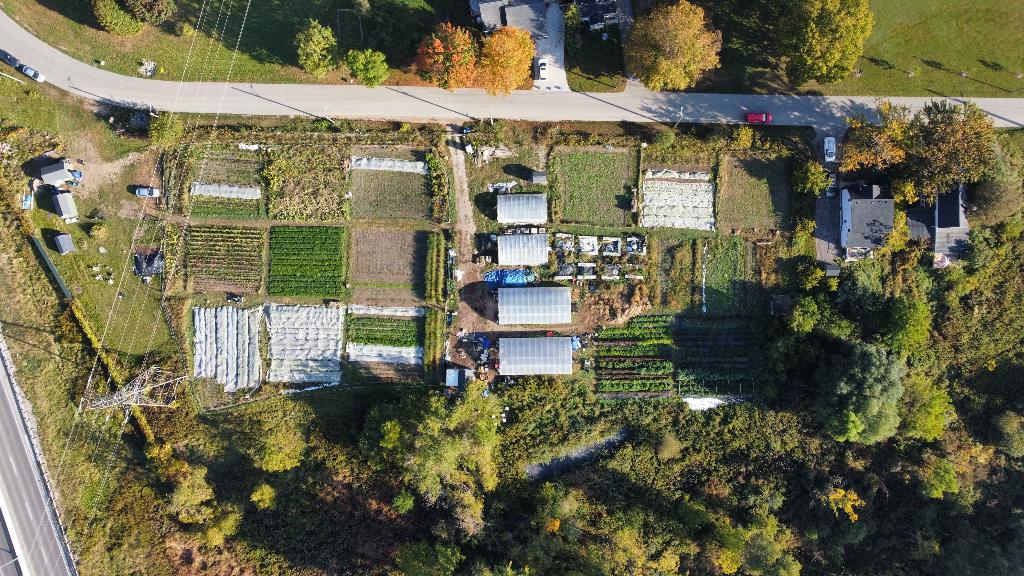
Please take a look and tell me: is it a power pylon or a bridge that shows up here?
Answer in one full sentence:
There is a power pylon in the scene.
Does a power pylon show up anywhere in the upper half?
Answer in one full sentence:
No, no power pylon appears in the upper half.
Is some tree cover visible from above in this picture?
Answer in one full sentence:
Yes, tree cover shows up in the scene.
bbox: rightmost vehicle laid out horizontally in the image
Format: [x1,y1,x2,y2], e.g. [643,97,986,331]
[743,112,771,124]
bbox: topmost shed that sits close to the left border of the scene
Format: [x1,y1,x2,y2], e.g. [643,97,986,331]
[36,159,73,185]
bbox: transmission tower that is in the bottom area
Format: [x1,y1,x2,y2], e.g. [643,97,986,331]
[76,363,190,426]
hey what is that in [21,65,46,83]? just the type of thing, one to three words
car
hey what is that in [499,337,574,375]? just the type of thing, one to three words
greenhouse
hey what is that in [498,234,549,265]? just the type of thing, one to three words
greenhouse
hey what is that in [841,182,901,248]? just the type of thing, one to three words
house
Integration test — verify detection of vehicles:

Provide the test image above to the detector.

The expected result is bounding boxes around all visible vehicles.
[538,59,548,83]
[0,49,21,67]
[136,188,161,199]
[21,65,46,83]
[824,171,838,199]
[823,136,836,162]
[743,112,771,124]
